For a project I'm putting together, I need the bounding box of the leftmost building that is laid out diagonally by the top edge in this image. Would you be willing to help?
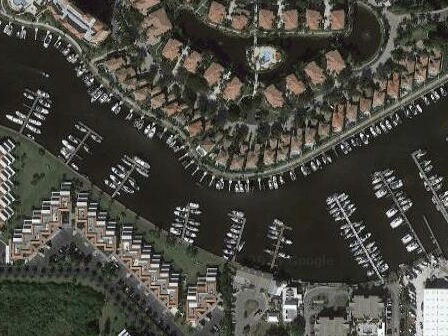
[47,0,106,48]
